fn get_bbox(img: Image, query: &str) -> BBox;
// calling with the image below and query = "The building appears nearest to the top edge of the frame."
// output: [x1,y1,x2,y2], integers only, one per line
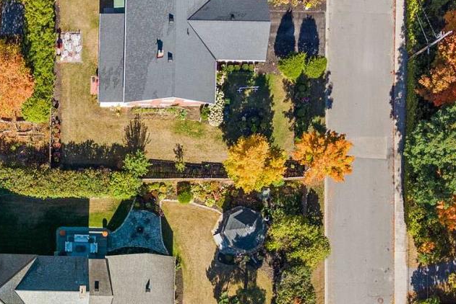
[98,0,271,107]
